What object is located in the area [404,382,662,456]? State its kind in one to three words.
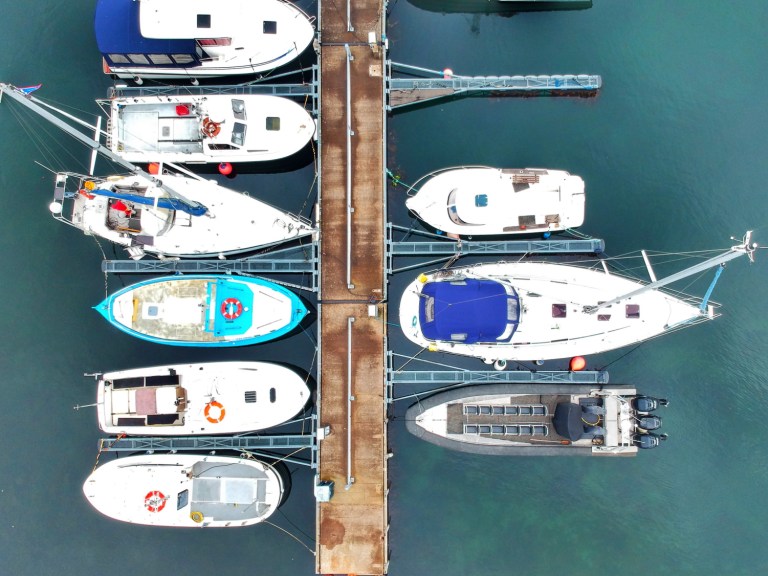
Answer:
boat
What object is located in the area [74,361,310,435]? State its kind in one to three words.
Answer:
boat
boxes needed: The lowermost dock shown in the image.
[317,302,386,572]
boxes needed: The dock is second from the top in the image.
[318,44,386,300]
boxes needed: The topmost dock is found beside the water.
[320,0,386,44]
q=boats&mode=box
[92,274,312,347]
[97,94,316,164]
[74,361,310,435]
[0,80,319,260]
[405,166,586,236]
[400,230,768,361]
[95,0,320,82]
[79,452,285,527]
[404,382,662,456]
